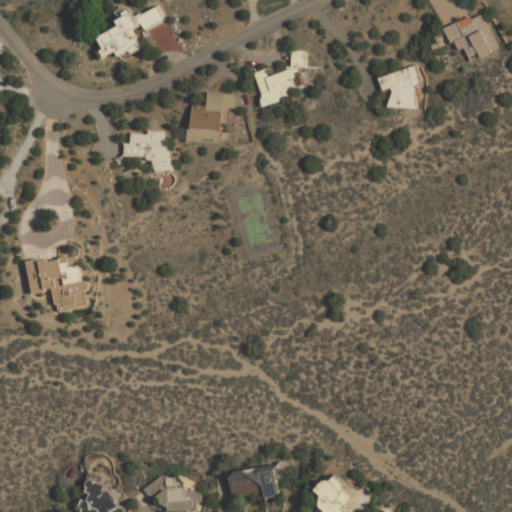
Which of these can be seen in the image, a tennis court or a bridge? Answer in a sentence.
Of the two, only a tennis court appears.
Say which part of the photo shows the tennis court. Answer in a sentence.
The tennis court sits in the center section of the image.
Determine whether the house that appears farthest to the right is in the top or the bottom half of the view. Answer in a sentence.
It is in the top half that the house that appears farthest to the right appears.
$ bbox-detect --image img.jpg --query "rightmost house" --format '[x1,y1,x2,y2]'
[443,15,500,62]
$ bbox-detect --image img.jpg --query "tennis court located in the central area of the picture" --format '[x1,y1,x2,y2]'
[232,182,282,258]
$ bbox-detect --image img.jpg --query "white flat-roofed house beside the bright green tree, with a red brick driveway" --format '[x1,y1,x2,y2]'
[97,4,166,60]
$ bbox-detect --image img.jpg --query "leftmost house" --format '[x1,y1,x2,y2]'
[26,256,89,311]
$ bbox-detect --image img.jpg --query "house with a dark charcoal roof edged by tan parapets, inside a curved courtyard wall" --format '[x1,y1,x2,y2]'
[79,480,128,512]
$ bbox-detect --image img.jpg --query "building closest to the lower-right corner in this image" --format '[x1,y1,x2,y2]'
[312,474,350,512]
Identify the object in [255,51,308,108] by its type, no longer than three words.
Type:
house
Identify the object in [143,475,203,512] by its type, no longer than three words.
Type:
house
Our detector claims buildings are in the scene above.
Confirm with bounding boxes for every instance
[97,4,166,60]
[378,66,419,110]
[123,131,175,173]
[79,480,128,512]
[186,91,236,144]
[26,256,89,311]
[228,466,279,498]
[443,15,500,62]
[255,51,308,108]
[143,475,203,512]
[312,474,350,512]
